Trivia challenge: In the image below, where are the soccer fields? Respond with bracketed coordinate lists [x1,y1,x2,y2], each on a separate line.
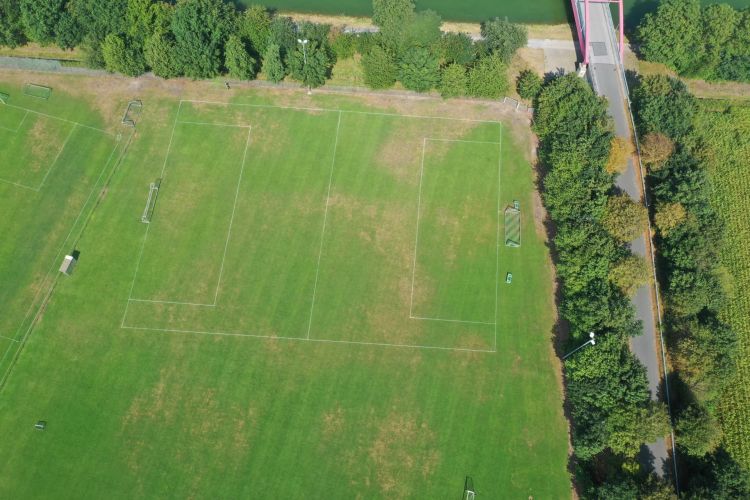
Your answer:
[0,106,118,367]
[122,100,501,351]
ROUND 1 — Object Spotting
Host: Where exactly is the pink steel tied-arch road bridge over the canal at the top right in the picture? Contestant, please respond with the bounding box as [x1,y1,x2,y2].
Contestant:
[571,0,626,96]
